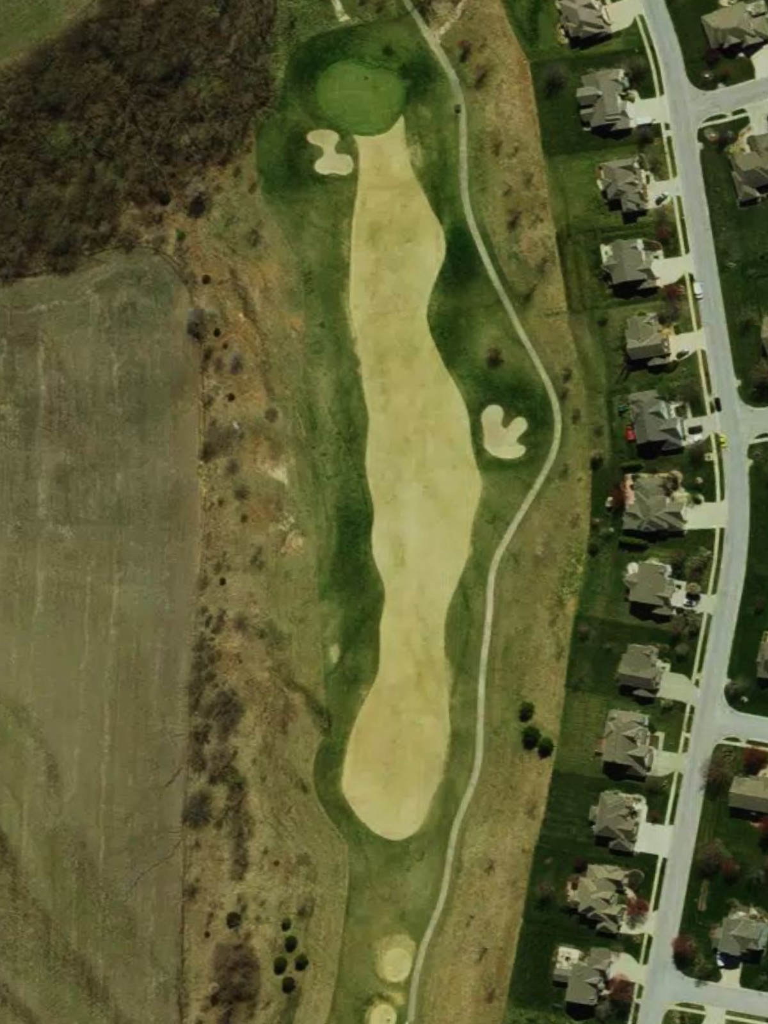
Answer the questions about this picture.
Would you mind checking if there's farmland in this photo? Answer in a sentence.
Yes, there is farmland in the image.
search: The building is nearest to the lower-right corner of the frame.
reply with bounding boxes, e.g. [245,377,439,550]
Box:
[710,916,767,957]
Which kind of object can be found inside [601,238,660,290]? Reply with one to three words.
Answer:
house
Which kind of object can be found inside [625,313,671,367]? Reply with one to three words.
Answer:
house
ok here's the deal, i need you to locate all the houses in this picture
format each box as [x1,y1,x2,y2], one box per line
[587,791,638,852]
[727,773,768,818]
[557,0,615,39]
[621,476,684,538]
[701,0,768,47]
[710,916,767,957]
[552,948,615,1005]
[616,640,663,699]
[629,392,685,450]
[572,68,636,130]
[755,634,768,679]
[601,238,660,290]
[601,707,652,773]
[575,860,627,936]
[731,133,768,202]
[597,160,651,212]
[622,561,675,615]
[625,313,671,367]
